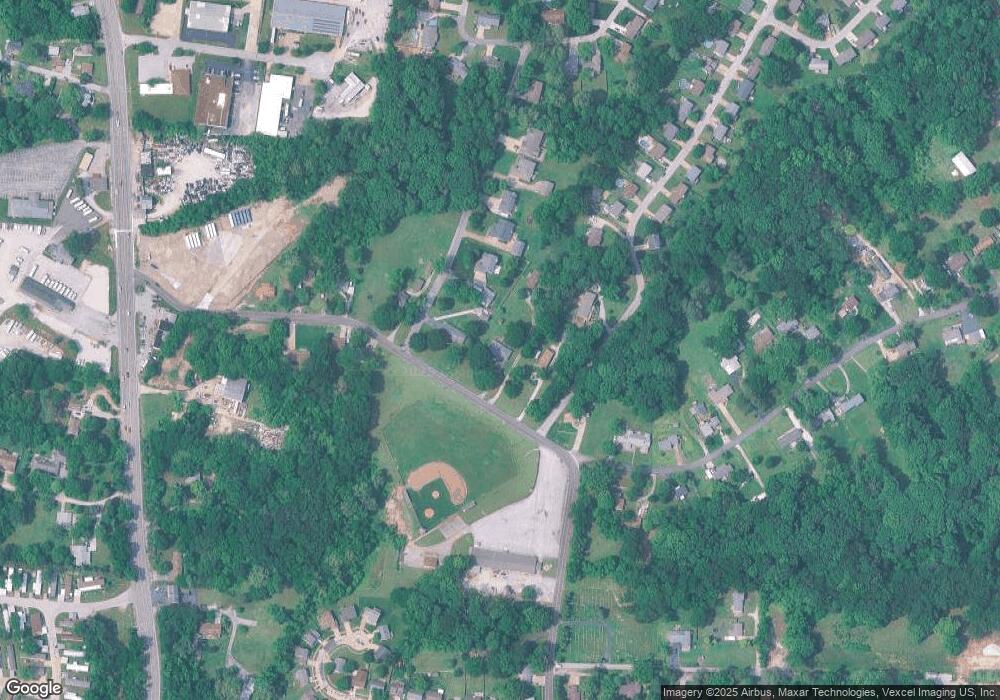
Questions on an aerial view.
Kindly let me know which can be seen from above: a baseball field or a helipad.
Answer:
baseball field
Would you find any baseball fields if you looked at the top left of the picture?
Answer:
No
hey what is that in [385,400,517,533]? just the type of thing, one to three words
baseball field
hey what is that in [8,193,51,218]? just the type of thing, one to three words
building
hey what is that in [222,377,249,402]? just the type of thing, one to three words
building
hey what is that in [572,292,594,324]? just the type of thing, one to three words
house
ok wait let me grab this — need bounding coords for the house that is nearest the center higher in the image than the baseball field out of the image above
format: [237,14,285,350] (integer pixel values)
[488,338,514,364]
